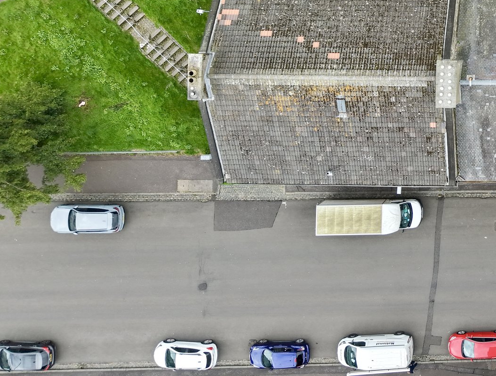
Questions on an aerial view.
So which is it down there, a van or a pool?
van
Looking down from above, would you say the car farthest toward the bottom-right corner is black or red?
red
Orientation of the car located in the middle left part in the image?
from left to right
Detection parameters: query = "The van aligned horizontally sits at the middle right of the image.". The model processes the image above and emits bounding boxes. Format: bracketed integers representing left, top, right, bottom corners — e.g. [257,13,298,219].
[317,195,423,236]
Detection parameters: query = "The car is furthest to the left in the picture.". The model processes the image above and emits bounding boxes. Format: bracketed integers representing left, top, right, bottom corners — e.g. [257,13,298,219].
[0,340,61,376]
